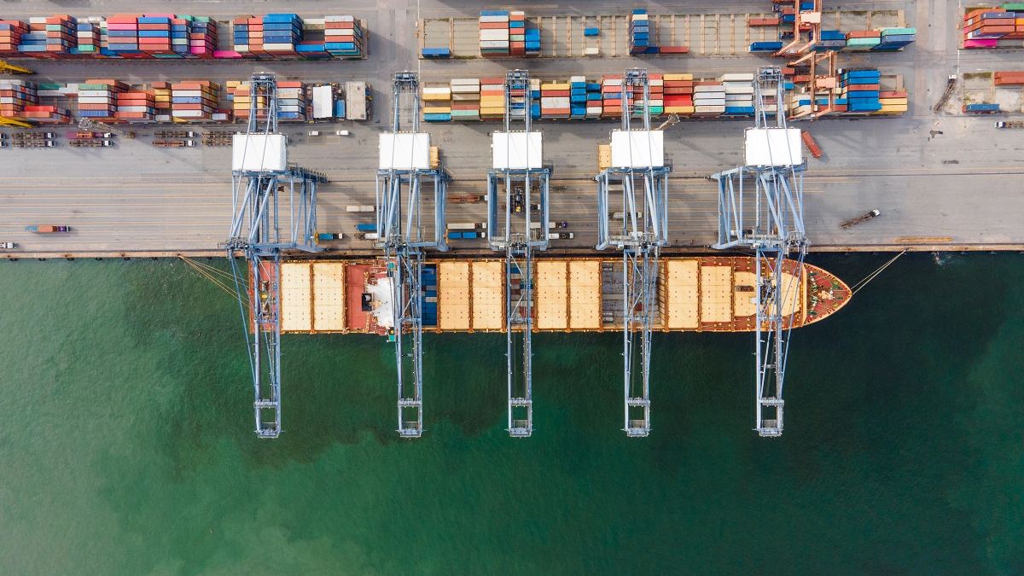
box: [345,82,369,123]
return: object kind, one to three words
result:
building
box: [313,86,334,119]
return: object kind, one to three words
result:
shed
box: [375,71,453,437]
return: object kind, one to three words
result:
container crane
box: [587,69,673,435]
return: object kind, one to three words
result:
container crane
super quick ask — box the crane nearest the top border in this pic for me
[766,0,821,58]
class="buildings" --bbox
[313,86,334,119]
[345,82,369,123]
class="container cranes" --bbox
[766,0,821,58]
[483,70,556,436]
[706,68,807,434]
[229,72,326,438]
[782,49,838,120]
[375,71,453,437]
[587,69,673,435]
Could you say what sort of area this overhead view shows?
port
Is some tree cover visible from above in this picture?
No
